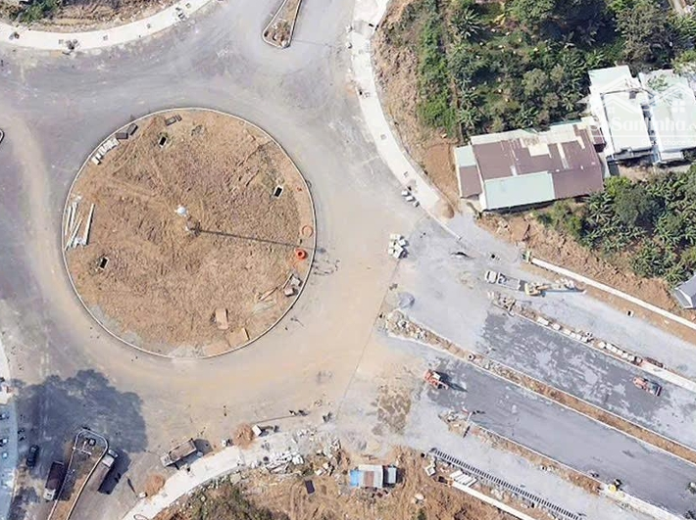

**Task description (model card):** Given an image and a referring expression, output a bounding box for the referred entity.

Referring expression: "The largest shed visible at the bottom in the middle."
[351,465,384,487]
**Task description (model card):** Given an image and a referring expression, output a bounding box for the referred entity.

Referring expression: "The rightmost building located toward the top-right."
[635,66,696,160]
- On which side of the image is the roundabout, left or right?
left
